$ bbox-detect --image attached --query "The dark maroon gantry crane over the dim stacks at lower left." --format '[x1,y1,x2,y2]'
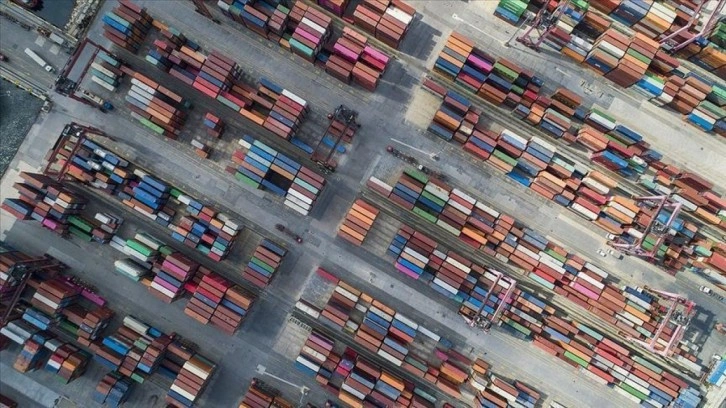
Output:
[0,254,71,328]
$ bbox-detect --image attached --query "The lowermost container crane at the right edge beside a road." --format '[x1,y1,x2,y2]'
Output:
[615,285,699,363]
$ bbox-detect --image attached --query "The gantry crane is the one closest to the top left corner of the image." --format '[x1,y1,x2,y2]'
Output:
[50,35,133,114]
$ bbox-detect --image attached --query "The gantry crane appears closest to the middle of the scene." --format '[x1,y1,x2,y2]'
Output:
[313,106,367,177]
